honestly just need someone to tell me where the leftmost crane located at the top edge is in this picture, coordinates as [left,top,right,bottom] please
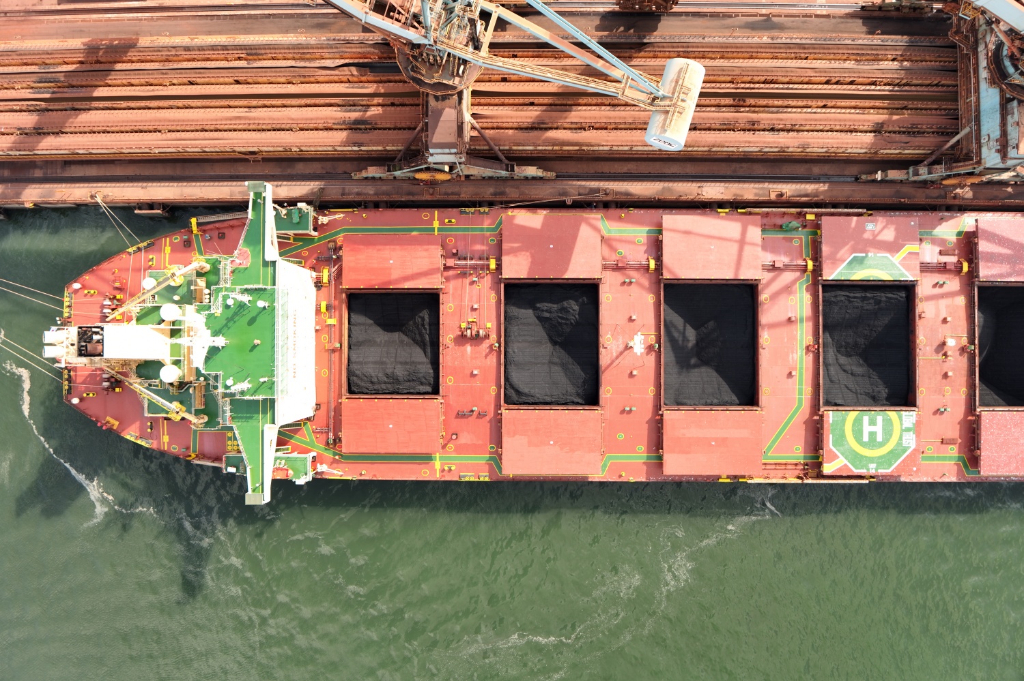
[317,0,711,188]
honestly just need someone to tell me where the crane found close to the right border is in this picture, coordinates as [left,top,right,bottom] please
[855,0,1024,188]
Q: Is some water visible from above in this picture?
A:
Yes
